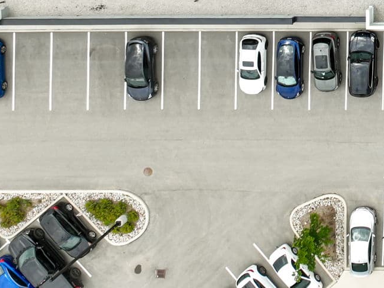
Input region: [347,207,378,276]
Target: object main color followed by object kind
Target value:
white car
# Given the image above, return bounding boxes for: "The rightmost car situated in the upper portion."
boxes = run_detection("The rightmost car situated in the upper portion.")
[347,31,378,98]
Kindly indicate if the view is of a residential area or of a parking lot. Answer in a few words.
parking lot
